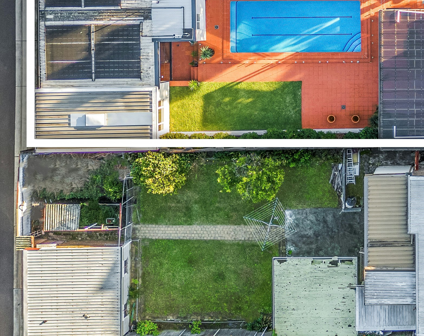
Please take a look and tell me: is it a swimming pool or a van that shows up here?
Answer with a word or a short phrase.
swimming pool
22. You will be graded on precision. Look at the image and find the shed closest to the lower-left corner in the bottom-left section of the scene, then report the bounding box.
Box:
[23,240,131,336]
